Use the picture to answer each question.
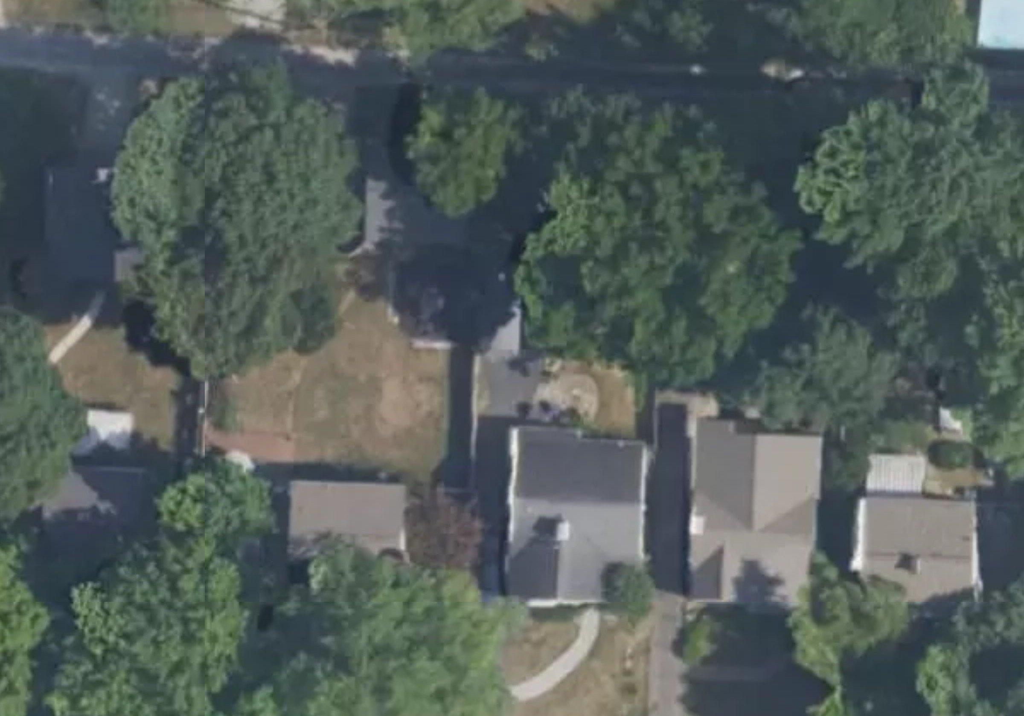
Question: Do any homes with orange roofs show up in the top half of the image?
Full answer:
No, the scene shows no home with an orange roof in the top half of the image.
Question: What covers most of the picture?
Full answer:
For the most part, this view shows trees.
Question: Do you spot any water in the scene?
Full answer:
No, the picture contains no water.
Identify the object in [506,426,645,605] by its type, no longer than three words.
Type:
house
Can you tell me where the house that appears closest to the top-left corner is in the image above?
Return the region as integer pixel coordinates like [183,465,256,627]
[44,164,142,282]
